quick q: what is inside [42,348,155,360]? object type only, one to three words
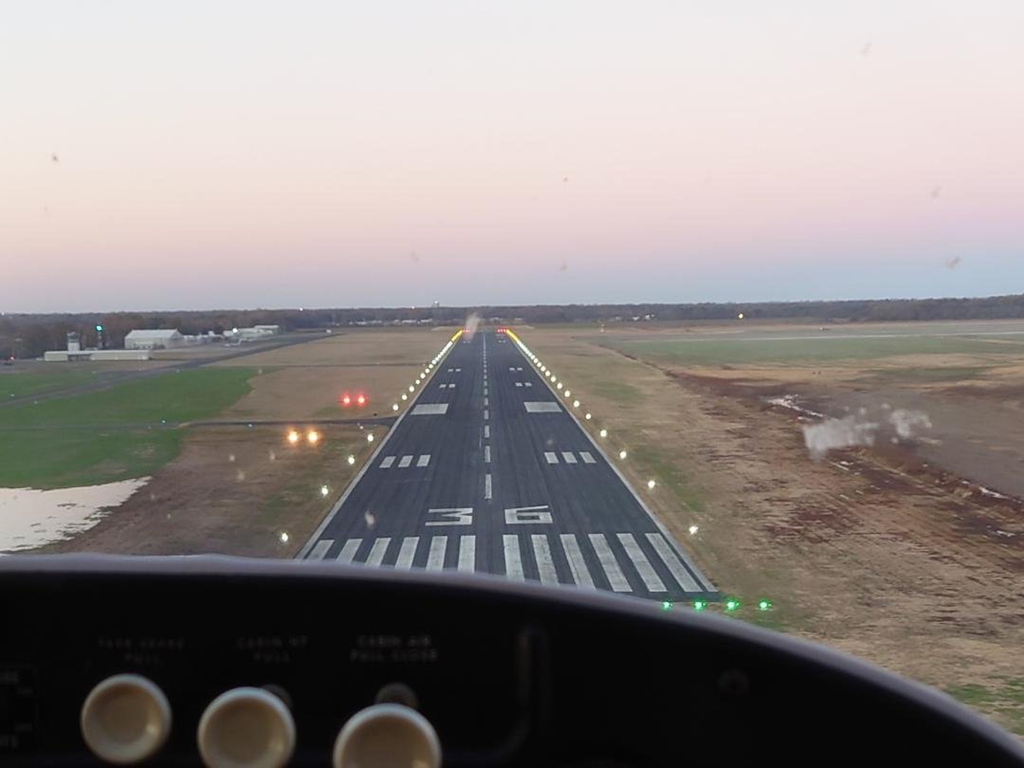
building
